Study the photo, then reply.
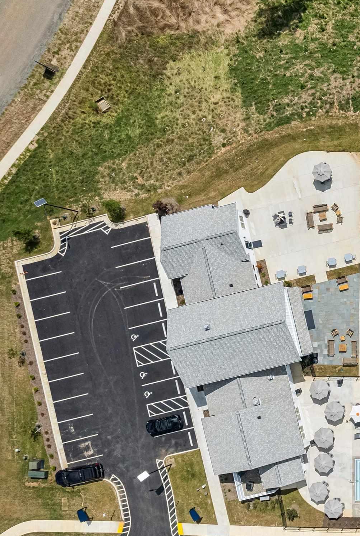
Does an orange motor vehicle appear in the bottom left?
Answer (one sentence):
No, there is no orange motor vehicle in the bottom left.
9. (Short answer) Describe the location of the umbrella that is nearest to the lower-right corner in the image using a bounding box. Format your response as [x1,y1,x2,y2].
[322,499,343,520]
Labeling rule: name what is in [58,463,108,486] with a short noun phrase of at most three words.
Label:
truck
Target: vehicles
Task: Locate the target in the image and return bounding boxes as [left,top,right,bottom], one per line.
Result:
[58,463,108,486]
[148,414,186,437]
